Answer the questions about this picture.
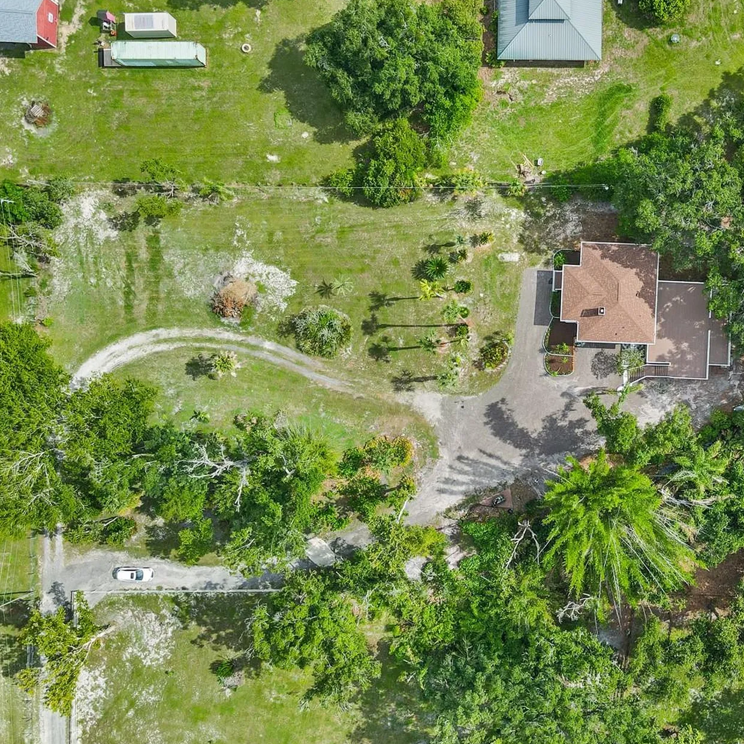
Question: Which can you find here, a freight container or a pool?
freight container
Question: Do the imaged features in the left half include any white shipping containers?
Yes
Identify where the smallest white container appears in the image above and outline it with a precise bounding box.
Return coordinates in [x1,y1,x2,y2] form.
[125,12,178,39]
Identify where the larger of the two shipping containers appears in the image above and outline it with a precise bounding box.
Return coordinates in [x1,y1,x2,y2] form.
[111,40,206,67]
